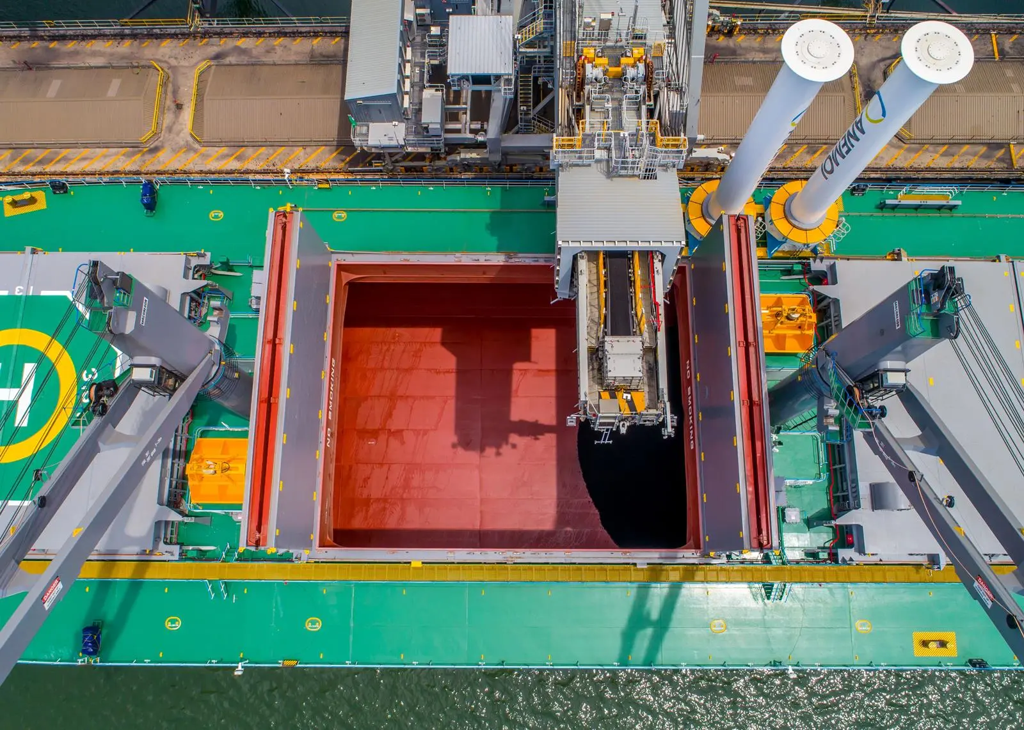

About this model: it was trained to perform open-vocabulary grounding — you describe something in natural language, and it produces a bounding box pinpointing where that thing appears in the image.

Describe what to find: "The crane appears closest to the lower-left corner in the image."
[0,249,259,677]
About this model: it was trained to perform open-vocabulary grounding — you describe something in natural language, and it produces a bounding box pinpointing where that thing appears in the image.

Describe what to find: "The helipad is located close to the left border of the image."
[0,287,128,507]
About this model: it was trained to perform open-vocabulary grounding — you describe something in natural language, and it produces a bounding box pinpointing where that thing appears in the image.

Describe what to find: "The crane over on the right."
[771,260,1024,635]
